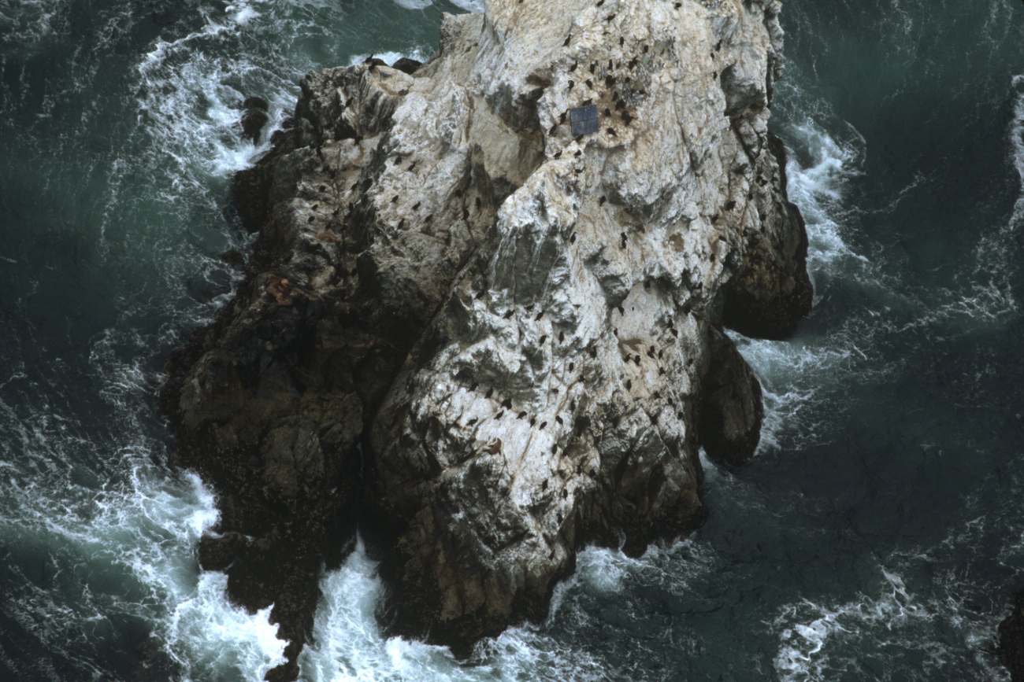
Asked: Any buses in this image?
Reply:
No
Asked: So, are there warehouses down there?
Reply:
No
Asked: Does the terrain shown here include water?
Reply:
Yes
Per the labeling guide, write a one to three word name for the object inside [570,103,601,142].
solar panel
